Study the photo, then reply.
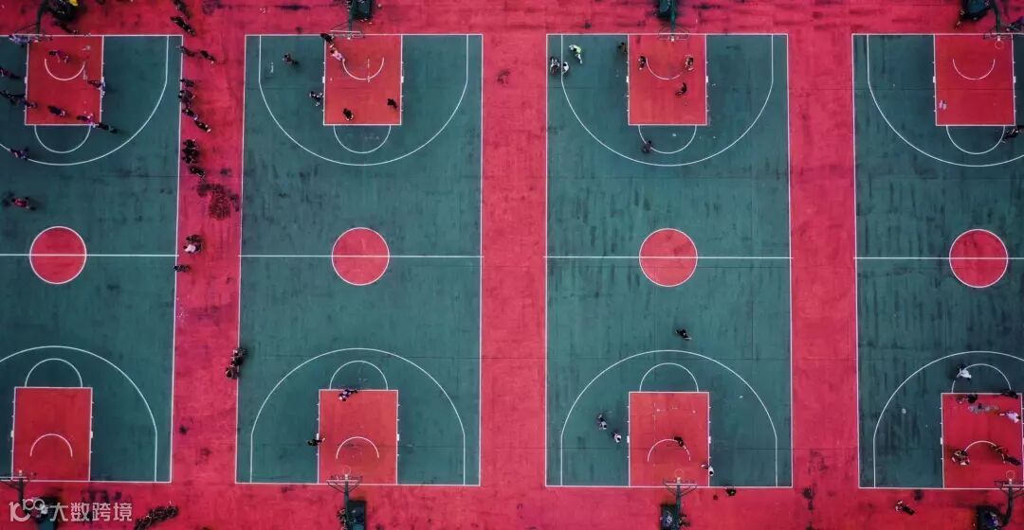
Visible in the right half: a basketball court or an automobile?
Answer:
basketball court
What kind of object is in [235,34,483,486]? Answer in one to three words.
basketball court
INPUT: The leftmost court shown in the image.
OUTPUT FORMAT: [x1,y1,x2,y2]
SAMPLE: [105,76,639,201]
[0,34,183,483]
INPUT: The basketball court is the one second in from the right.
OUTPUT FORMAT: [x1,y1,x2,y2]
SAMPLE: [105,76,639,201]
[545,33,793,489]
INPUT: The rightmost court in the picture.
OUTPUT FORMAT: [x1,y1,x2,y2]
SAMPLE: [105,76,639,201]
[851,33,1024,491]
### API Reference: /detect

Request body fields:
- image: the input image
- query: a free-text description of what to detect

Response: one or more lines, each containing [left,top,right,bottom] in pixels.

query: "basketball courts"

[851,33,1024,491]
[235,34,483,486]
[545,33,793,489]
[0,34,183,483]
